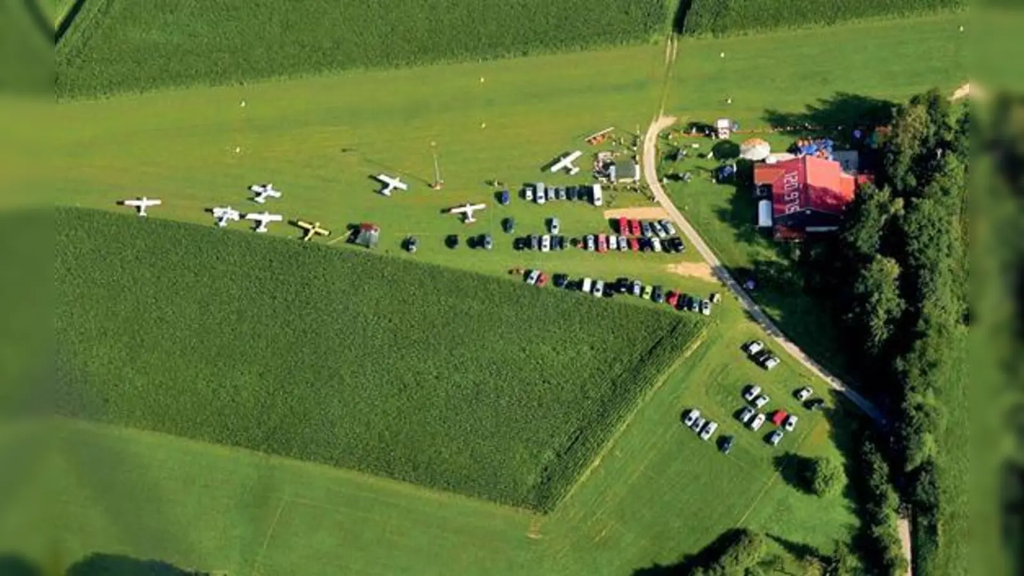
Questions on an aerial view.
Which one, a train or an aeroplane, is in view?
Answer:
aeroplane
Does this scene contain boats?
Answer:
No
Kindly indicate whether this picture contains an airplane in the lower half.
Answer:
No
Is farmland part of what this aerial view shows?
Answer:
Yes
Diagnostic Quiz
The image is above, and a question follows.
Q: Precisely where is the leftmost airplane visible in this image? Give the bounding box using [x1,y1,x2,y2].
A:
[123,197,161,217]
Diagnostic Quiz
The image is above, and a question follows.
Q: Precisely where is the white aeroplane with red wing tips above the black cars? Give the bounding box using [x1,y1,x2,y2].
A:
[449,204,487,224]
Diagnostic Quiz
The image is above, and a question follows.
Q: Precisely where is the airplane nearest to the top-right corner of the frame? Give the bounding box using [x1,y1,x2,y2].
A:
[549,151,583,175]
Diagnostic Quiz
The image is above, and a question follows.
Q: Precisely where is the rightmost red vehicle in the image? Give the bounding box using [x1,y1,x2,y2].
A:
[769,408,788,429]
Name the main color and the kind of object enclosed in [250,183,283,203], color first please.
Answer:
white airplane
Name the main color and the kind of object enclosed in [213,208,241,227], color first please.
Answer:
white airplane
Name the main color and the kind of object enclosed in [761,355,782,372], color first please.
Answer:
white car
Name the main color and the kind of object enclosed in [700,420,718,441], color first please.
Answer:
white car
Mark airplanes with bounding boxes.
[245,211,283,232]
[376,174,408,196]
[123,197,161,217]
[250,183,283,203]
[296,218,332,241]
[213,208,241,227]
[549,151,583,175]
[449,204,487,224]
